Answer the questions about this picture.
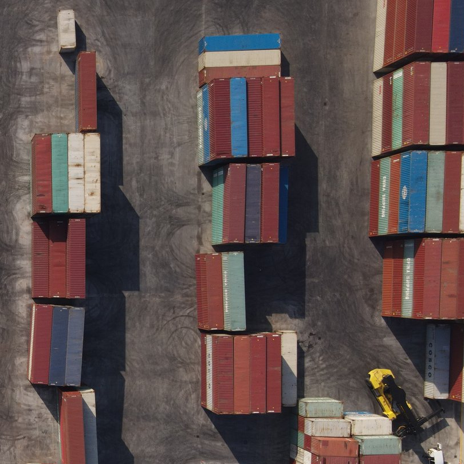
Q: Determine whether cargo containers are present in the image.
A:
Yes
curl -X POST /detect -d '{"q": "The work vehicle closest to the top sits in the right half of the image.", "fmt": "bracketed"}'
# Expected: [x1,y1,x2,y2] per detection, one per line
[371,369,439,437]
